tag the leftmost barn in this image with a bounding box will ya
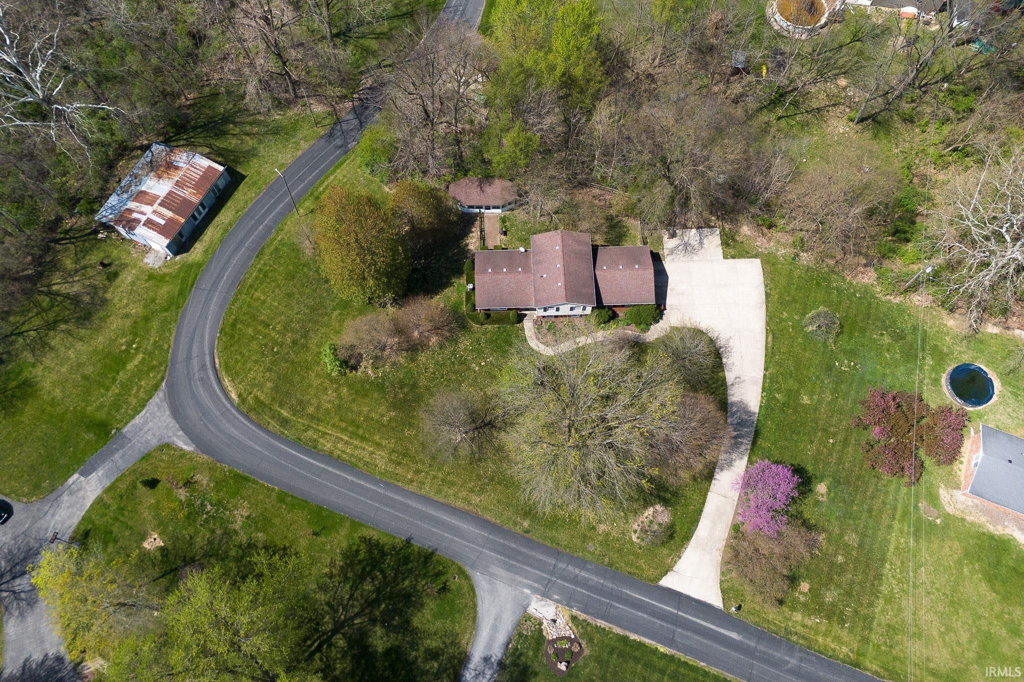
[95,138,231,254]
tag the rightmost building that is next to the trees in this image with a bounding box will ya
[958,422,1024,518]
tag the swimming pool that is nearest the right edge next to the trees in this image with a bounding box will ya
[943,363,996,410]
